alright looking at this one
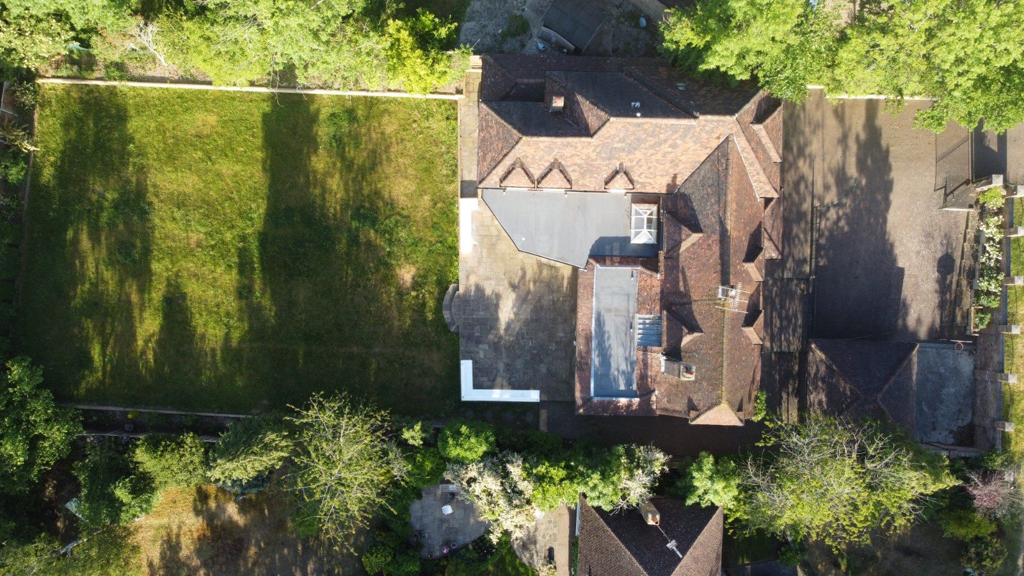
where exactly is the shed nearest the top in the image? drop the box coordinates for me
[537,0,619,55]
